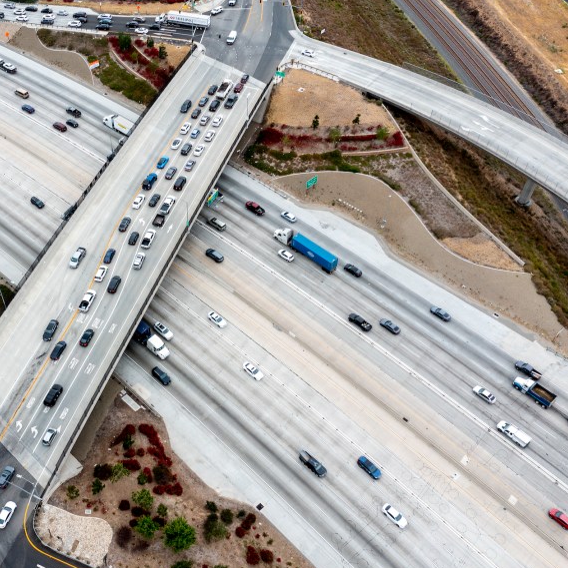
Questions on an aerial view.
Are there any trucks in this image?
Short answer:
Yes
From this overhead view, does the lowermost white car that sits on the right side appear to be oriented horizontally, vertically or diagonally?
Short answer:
diagonally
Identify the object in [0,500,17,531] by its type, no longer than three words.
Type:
car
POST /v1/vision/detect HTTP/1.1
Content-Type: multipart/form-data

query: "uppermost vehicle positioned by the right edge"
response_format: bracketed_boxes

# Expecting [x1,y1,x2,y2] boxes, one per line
[513,358,544,382]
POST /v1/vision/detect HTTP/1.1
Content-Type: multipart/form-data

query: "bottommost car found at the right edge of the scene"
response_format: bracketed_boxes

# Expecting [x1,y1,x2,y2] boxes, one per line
[545,505,568,532]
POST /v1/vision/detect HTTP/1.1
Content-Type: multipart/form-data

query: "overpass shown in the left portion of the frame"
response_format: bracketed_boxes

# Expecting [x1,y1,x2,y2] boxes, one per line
[0,39,269,496]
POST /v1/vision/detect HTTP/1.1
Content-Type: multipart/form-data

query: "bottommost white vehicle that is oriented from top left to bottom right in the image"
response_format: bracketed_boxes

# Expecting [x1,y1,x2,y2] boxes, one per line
[380,503,409,530]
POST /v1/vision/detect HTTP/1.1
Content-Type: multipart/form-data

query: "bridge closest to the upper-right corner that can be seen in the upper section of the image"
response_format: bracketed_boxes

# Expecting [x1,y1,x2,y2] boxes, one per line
[339,42,568,209]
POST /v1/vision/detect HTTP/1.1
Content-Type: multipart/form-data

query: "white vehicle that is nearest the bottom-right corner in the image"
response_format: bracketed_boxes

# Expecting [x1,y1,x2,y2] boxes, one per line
[497,420,532,447]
